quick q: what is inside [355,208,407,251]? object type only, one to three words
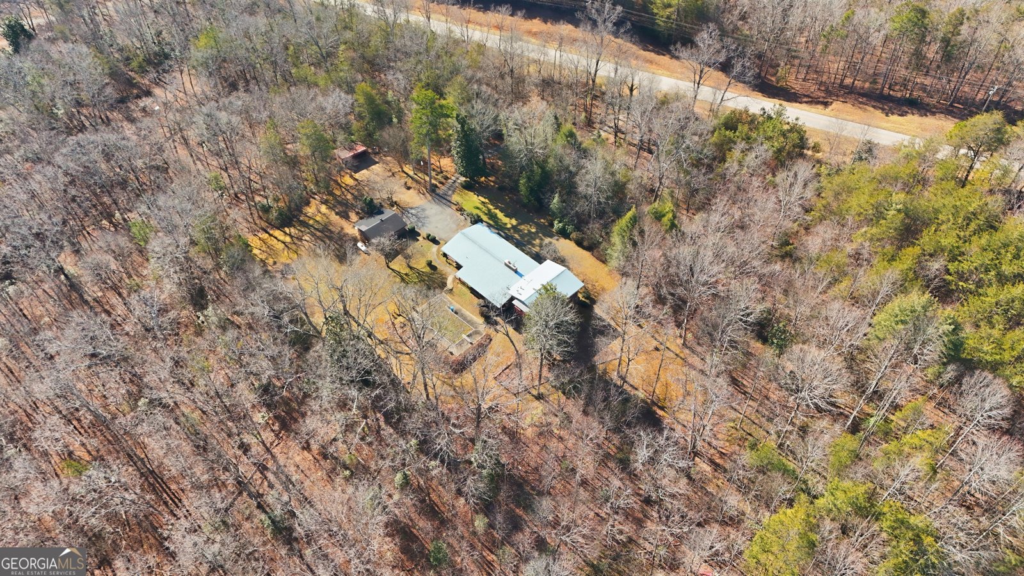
building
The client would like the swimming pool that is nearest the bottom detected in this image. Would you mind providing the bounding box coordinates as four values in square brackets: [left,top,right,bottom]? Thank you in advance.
[411,292,486,355]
